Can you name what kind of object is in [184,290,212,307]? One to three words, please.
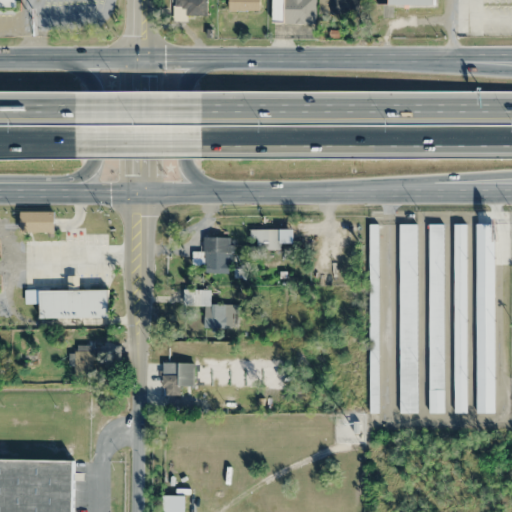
house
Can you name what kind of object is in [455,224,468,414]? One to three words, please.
building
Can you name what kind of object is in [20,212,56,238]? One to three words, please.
house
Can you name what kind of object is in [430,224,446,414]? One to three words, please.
building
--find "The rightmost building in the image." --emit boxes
[476,224,496,414]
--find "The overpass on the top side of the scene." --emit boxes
[0,90,512,160]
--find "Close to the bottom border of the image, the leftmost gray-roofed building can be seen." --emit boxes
[0,461,74,512]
